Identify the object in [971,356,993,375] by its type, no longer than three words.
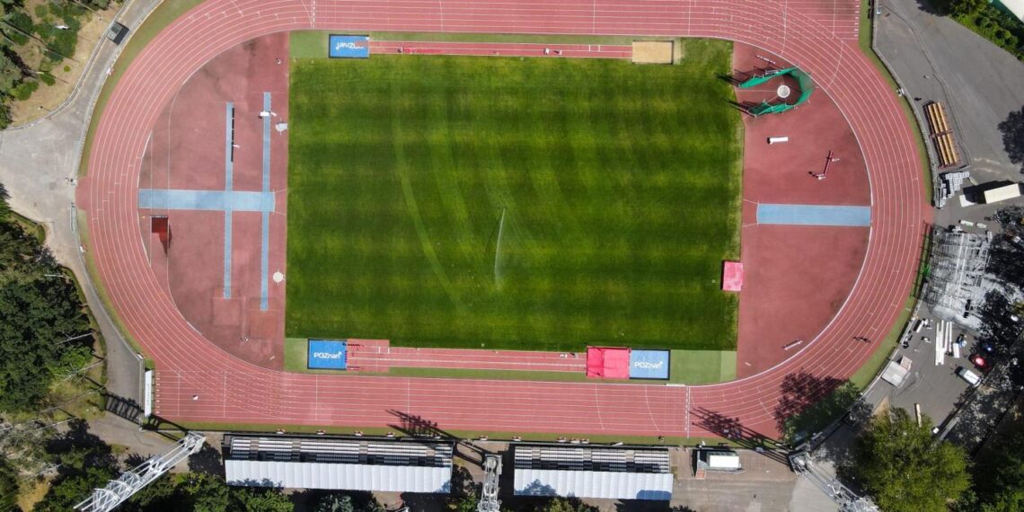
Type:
car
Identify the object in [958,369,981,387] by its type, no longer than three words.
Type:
car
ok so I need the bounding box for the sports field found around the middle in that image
[285,29,744,386]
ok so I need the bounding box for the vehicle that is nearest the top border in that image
[964,183,1021,207]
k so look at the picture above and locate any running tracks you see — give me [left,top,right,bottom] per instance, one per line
[76,0,934,437]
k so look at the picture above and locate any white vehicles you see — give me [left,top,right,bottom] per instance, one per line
[964,183,1021,207]
[958,369,981,387]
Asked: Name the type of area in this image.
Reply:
sports ground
